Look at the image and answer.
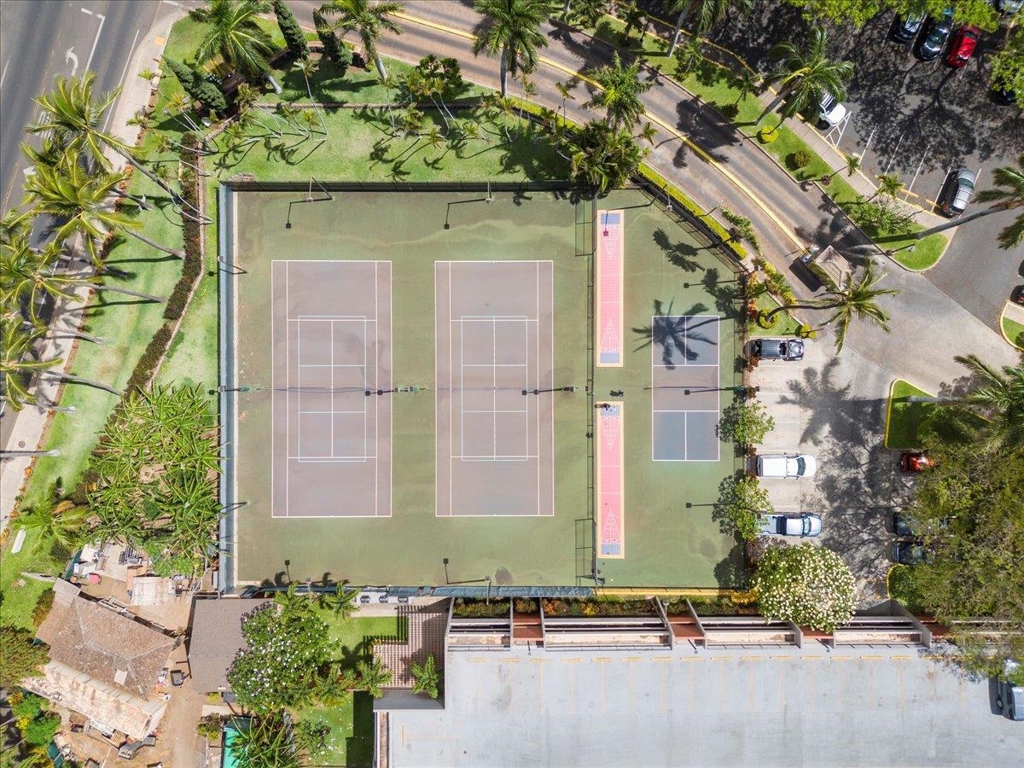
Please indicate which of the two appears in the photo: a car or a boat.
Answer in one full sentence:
Looking from above, you can make out a car.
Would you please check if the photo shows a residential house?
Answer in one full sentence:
Yes, you can see a residential house in this photo.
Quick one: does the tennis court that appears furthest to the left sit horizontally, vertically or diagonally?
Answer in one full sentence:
I'd say the tennis court that appears furthest to the left is aligned vertically in the picture.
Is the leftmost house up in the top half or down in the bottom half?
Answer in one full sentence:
The bottom half of the photo is where the leftmost house is.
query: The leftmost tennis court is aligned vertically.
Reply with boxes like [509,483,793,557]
[271,260,392,518]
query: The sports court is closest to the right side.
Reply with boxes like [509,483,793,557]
[652,316,720,462]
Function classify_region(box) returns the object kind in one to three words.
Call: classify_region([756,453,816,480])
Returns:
car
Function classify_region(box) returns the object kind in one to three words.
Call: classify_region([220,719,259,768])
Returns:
swimming pool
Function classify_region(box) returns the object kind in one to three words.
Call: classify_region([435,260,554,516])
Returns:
tennis court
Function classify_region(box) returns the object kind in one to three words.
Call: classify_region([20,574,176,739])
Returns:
house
